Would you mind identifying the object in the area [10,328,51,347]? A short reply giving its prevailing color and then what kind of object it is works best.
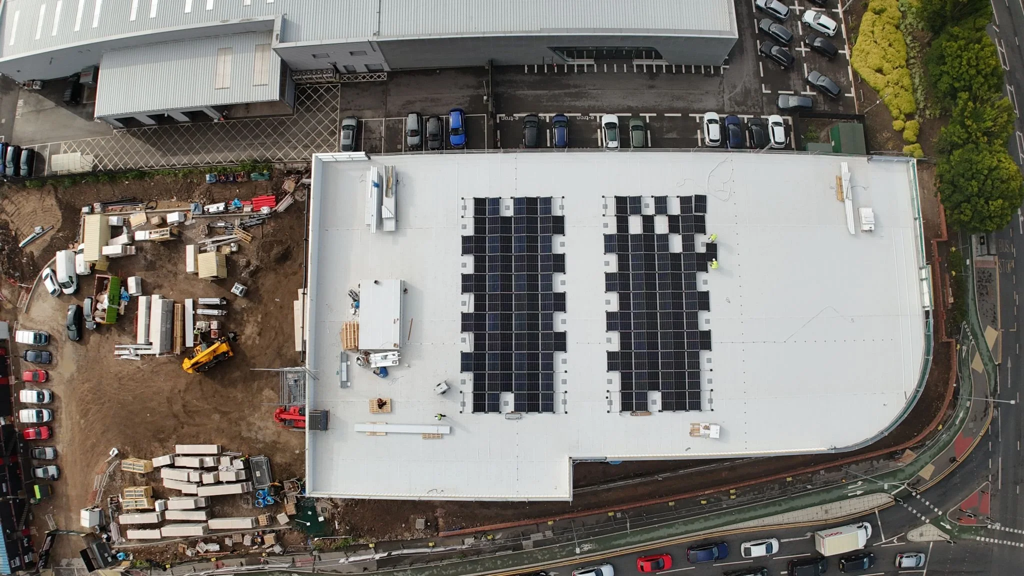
white vehicle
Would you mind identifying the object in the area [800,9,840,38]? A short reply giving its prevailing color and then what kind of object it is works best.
white car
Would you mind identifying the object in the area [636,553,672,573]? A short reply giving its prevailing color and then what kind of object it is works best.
red car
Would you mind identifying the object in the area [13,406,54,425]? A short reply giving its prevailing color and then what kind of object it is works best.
white vehicle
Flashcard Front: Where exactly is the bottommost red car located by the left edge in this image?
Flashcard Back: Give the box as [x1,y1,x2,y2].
[23,425,54,441]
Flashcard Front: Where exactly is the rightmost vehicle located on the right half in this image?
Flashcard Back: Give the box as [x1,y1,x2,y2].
[893,551,924,569]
